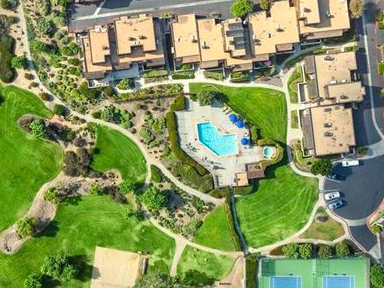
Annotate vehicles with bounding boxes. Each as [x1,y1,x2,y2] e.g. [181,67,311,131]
[324,191,338,199]
[329,199,344,208]
[341,160,360,167]
[327,173,342,180]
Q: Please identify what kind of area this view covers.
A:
residential area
